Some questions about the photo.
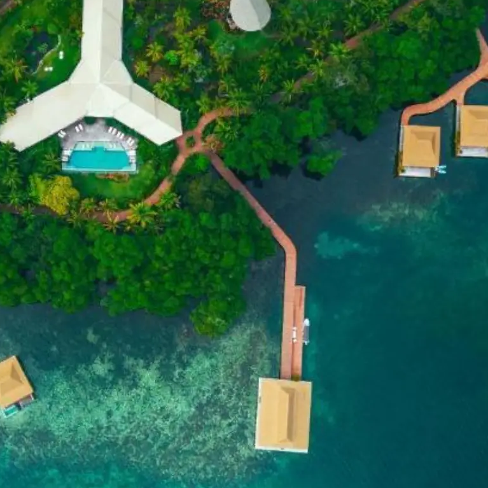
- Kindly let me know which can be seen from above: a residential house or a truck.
residential house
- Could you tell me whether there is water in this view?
Yes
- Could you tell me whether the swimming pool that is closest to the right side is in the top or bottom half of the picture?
top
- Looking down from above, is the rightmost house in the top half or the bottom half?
top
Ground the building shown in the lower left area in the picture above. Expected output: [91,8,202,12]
[0,356,33,408]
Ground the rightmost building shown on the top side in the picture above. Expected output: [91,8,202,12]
[456,105,488,157]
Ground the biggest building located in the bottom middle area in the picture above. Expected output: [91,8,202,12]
[253,377,313,452]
